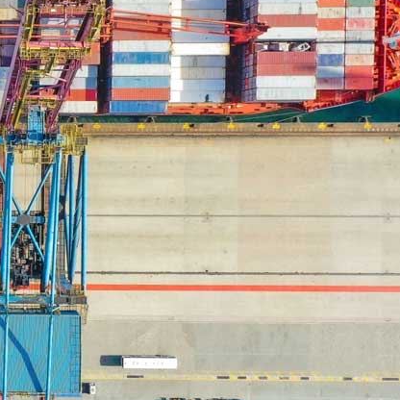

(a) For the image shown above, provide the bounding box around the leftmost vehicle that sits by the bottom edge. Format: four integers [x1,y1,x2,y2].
[82,381,95,394]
